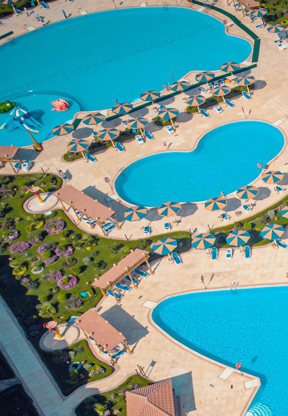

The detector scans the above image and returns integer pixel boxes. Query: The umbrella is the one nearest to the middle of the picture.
[124,207,151,230]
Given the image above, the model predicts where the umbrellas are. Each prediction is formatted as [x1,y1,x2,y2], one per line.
[157,107,181,128]
[186,95,208,115]
[266,25,286,39]
[191,233,219,257]
[211,85,232,105]
[1,0,20,11]
[97,128,122,148]
[220,63,242,81]
[83,113,107,133]
[260,225,287,249]
[112,103,134,122]
[195,71,217,91]
[261,172,286,193]
[250,9,269,25]
[67,140,92,161]
[204,198,230,220]
[225,231,252,254]
[139,90,163,110]
[52,123,77,144]
[236,76,257,94]
[170,82,192,100]
[234,186,261,209]
[151,239,179,263]
[126,118,150,137]
[124,207,151,230]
